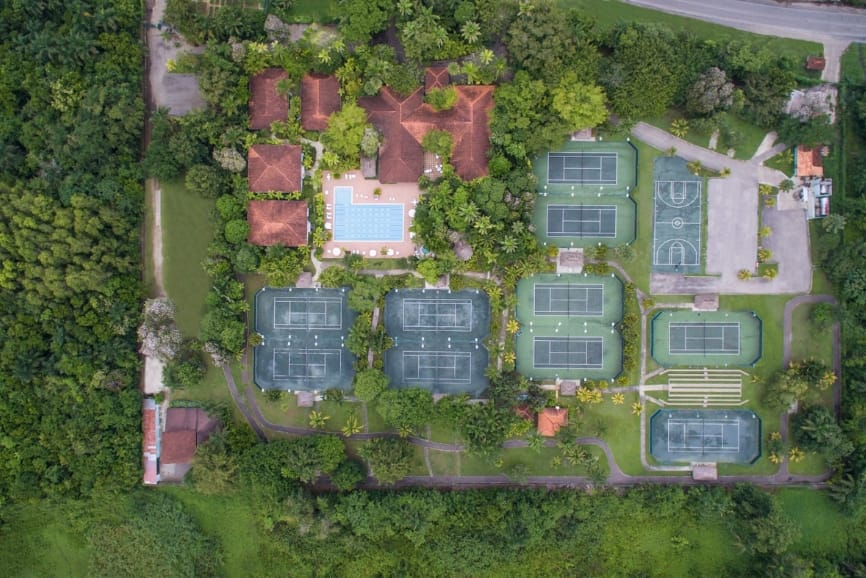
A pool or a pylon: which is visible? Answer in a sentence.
It is a pool that can be seen here.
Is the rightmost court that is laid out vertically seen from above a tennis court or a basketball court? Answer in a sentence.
What you see as the rightmost court that is laid out vertically is a basketball court.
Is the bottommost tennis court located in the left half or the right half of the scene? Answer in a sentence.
The bottommost tennis court sits on the right side.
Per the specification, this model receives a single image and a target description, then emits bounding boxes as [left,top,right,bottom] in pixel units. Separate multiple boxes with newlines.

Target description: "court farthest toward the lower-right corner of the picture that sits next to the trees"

[651,410,760,464]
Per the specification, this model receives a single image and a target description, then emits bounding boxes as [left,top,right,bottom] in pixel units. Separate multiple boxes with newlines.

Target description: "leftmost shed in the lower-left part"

[141,399,160,485]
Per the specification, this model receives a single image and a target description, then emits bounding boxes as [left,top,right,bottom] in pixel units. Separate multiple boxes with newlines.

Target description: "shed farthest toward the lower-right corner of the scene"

[689,463,718,480]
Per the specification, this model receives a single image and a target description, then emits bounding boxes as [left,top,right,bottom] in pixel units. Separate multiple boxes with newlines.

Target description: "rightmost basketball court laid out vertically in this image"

[653,155,702,272]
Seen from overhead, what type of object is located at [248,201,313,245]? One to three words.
building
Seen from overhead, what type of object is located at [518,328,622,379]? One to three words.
tennis court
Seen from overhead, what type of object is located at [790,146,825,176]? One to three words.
house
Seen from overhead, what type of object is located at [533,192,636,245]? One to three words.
tennis court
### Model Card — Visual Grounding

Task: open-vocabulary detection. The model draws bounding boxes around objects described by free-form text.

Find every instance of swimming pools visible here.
[333,185,404,242]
